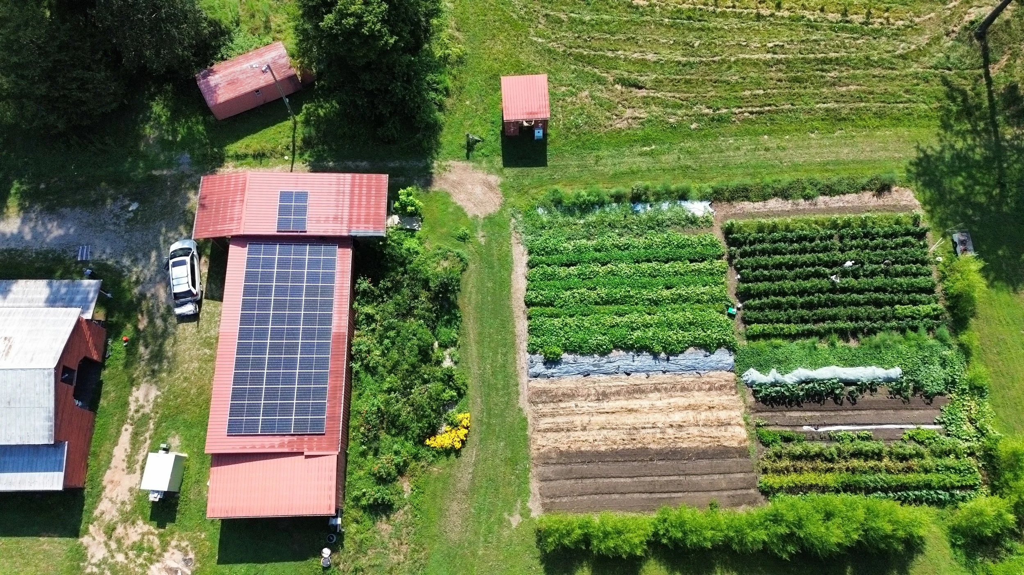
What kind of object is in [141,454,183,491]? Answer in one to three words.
building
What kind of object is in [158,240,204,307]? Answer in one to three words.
car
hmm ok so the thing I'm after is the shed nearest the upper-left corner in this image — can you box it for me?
[191,35,301,119]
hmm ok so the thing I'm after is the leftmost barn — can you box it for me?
[0,282,118,491]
